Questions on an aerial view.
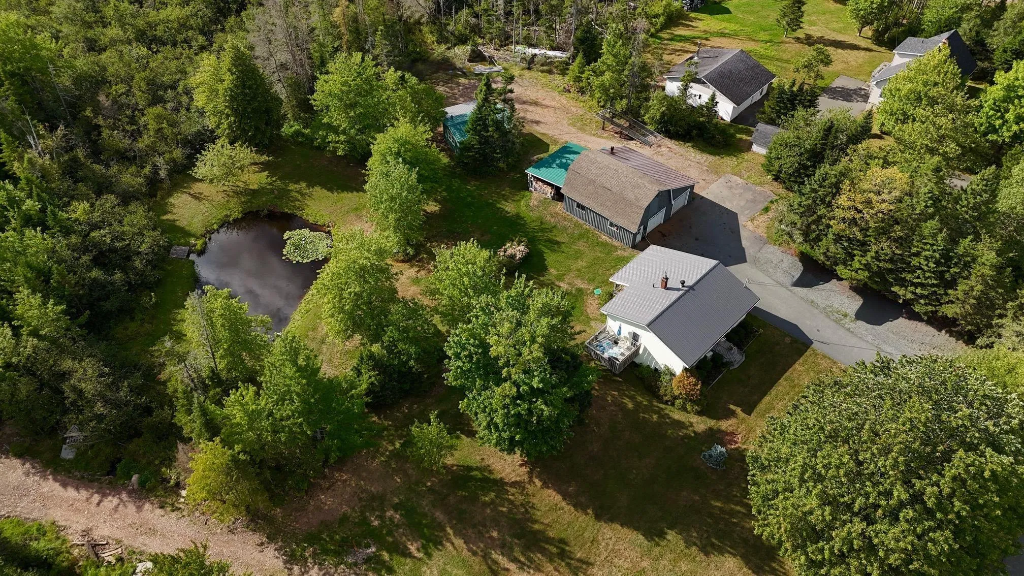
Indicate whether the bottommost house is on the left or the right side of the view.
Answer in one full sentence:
The bottommost house sits on the right side.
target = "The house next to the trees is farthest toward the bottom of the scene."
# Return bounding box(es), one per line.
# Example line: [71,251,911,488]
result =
[599,244,760,387]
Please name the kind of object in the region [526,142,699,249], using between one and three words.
building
